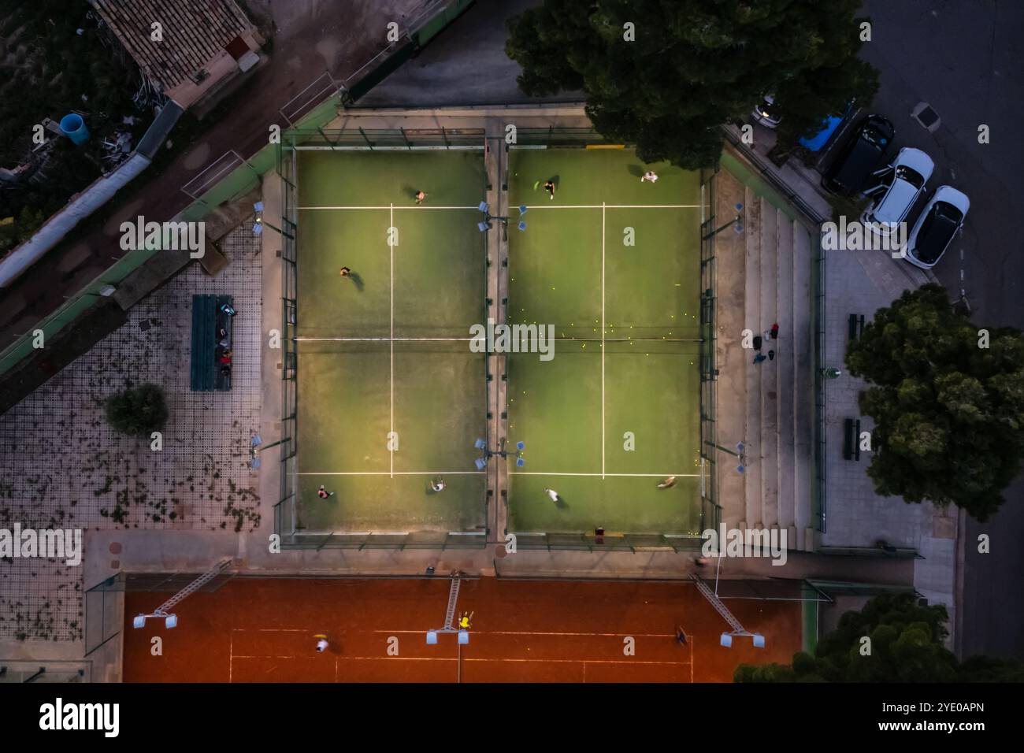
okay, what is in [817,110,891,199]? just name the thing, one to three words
car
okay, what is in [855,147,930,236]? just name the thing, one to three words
car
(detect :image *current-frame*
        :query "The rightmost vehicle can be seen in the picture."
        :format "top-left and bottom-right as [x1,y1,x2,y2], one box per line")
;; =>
[902,185,969,271]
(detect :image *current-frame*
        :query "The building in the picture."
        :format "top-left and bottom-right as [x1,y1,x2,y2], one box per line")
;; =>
[97,0,274,108]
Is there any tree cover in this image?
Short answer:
Yes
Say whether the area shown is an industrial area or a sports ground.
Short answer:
sports ground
